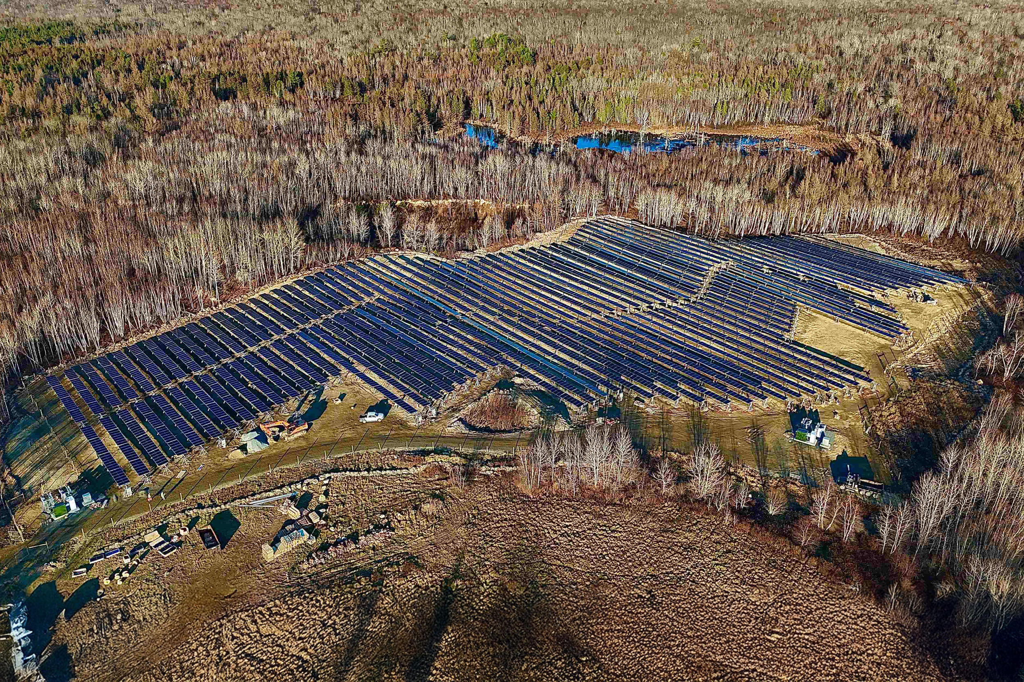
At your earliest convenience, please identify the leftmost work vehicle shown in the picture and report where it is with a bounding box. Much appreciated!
[263,420,305,443]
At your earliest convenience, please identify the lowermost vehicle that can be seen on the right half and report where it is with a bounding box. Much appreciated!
[835,472,887,499]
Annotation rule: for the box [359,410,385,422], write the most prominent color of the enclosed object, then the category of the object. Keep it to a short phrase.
white vehicle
